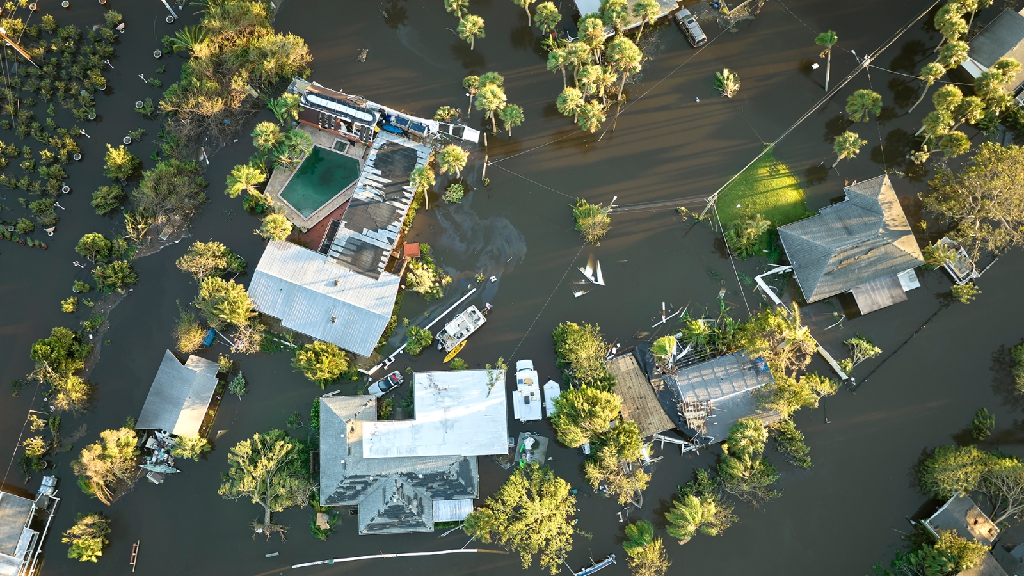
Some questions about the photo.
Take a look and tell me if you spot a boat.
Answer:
Yes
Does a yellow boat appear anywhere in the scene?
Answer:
Yes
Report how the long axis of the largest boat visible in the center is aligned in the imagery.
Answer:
on a diagonal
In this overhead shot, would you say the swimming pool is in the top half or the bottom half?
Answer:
top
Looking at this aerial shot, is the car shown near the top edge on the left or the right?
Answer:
right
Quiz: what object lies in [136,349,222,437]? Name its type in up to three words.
house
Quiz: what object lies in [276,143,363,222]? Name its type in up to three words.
swimming pool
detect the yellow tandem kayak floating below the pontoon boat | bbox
[444,341,466,363]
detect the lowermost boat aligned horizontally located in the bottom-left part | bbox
[138,463,180,475]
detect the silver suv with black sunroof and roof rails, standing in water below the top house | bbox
[676,10,705,49]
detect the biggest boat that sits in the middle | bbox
[435,302,488,352]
